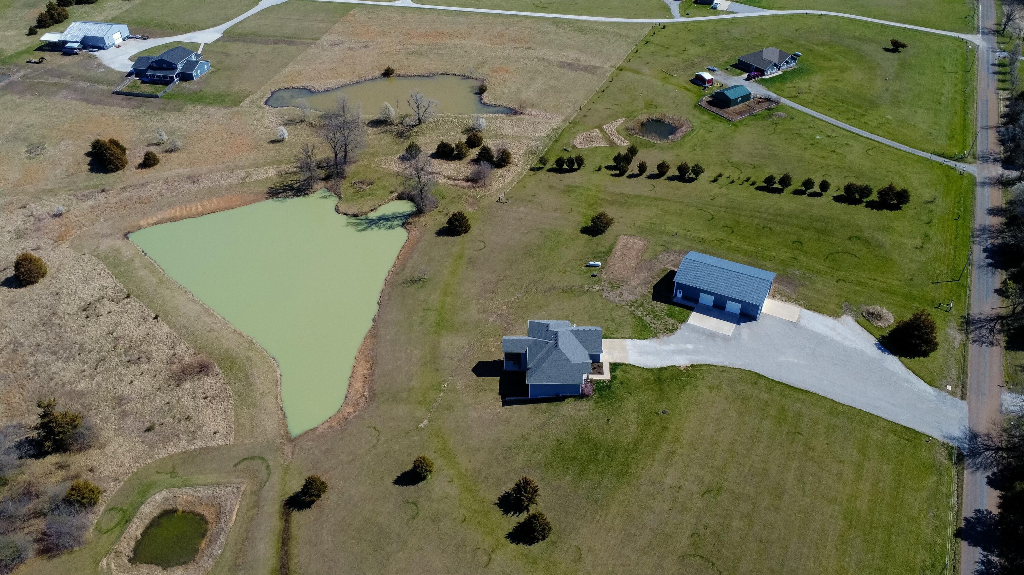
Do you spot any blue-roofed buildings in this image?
Yes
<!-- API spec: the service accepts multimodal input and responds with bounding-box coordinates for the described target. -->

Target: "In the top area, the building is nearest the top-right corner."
[736,47,800,76]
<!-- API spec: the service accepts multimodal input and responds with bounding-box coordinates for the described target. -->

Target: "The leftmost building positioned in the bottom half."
[502,317,604,397]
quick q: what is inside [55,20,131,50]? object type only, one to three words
barn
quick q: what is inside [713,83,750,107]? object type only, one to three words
barn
